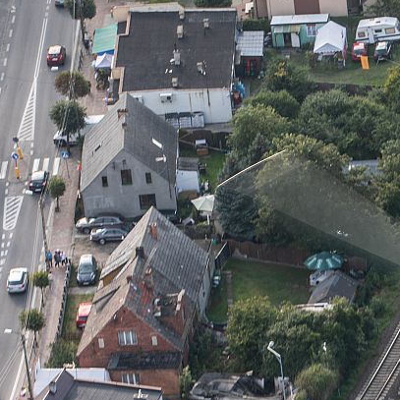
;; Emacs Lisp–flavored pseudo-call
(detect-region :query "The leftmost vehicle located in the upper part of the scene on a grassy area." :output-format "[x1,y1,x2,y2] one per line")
[352,43,370,63]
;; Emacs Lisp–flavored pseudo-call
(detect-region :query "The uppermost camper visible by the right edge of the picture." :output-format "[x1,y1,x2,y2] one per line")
[356,16,400,46]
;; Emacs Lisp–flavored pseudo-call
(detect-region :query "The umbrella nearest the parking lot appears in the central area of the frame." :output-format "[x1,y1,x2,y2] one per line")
[189,195,220,211]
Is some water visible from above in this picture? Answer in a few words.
No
